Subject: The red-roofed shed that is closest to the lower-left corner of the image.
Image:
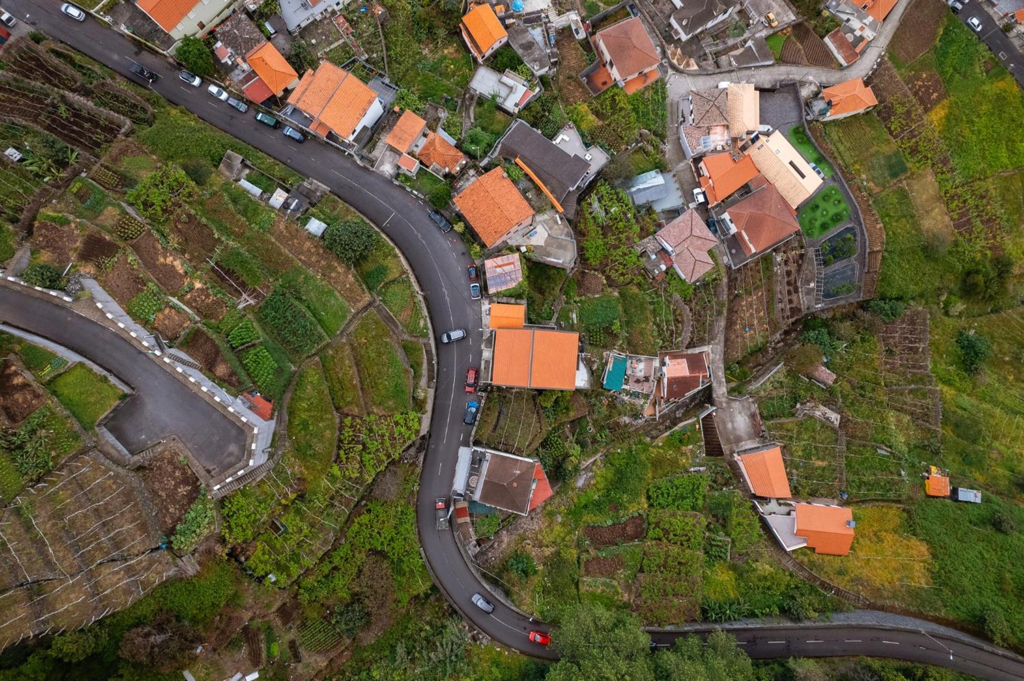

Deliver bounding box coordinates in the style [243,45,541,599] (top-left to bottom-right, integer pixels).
[241,393,275,420]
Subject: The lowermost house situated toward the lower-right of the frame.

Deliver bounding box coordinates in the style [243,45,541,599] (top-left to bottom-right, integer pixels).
[786,500,855,556]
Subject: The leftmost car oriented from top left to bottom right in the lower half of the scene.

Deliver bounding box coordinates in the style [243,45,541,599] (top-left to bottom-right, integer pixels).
[470,595,494,616]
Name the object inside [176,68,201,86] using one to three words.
car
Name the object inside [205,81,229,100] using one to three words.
car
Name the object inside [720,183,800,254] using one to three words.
house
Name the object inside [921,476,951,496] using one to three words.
shed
